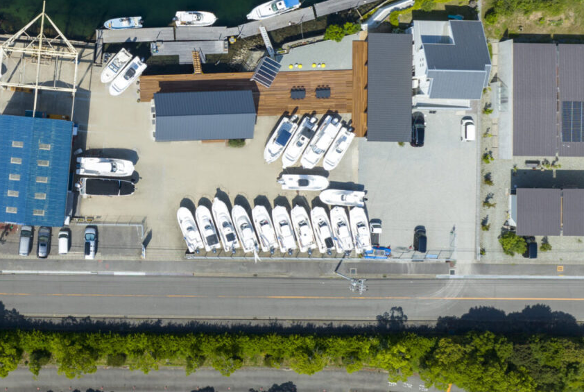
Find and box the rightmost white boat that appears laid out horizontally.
[321,190,370,206]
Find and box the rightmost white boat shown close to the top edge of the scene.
[247,0,302,18]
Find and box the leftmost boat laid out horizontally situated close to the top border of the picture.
[104,17,147,29]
